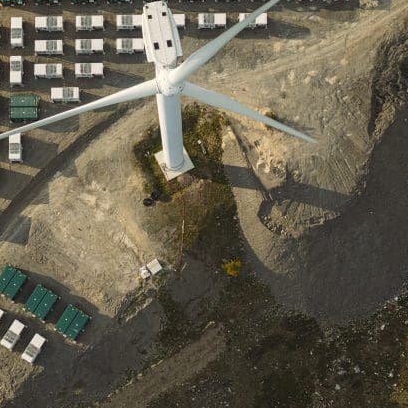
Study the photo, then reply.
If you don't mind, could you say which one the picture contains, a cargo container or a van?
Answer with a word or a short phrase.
cargo container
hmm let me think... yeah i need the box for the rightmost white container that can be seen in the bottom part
[22,329,51,363]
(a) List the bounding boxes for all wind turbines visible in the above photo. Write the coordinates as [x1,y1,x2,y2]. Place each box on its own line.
[0,0,317,184]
